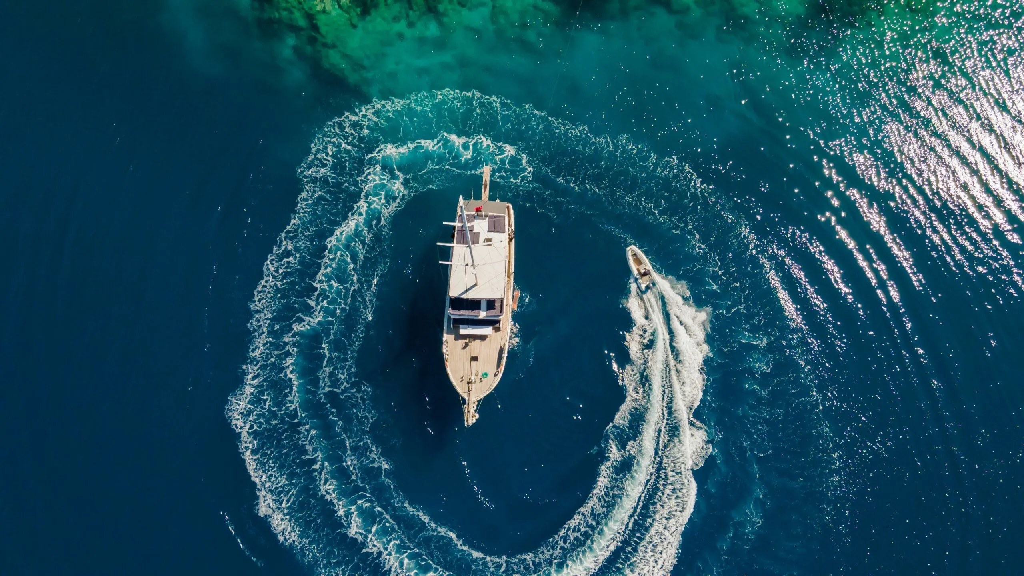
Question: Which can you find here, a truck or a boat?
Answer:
boat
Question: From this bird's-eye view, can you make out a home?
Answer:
No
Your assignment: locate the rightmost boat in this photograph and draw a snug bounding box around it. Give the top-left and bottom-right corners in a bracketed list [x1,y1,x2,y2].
[625,246,659,293]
